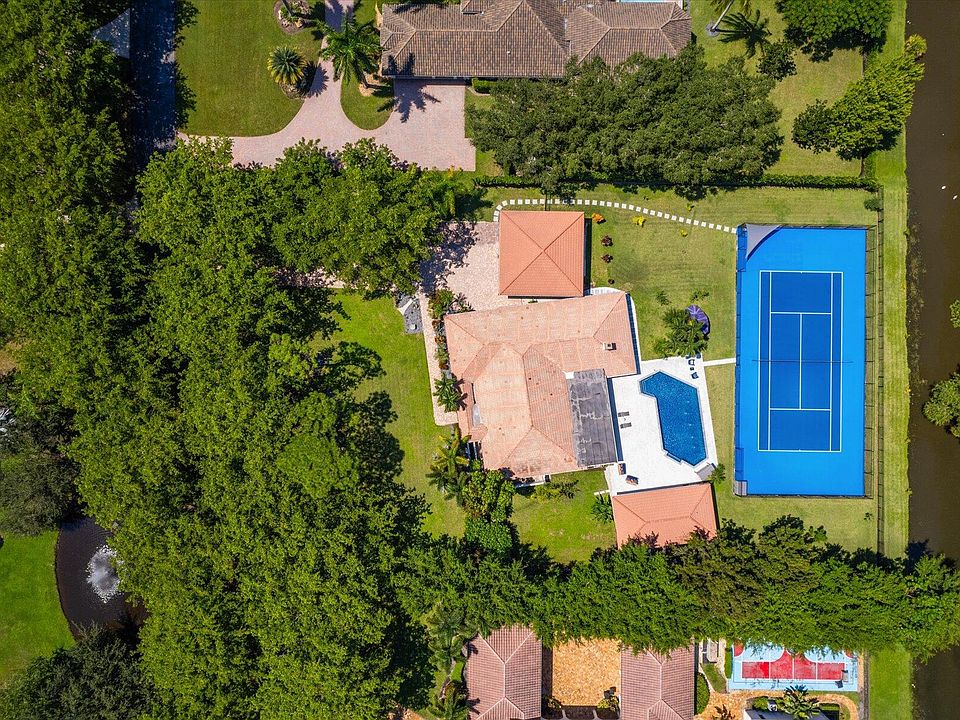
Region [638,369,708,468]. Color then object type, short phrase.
blue swimming pool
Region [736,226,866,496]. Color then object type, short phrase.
blue tennis court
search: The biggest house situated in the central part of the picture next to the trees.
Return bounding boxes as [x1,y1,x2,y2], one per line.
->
[443,292,637,480]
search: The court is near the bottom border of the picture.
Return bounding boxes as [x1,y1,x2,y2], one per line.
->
[728,629,858,690]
